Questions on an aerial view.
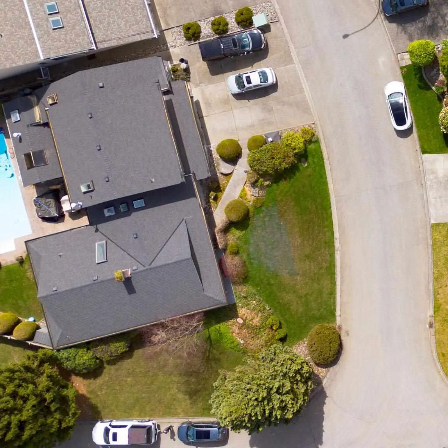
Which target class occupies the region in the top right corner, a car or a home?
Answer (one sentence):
What appears in the top right corner is a car.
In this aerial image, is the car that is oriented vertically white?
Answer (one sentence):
Yes, the car that is oriented vertically is white.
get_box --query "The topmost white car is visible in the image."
[227,68,278,94]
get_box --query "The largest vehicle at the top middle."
[197,30,267,62]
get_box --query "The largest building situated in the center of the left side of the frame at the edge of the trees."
[2,55,228,349]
